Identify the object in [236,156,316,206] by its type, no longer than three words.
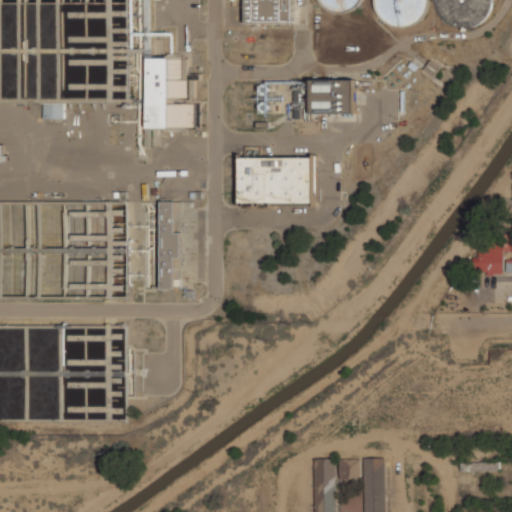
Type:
building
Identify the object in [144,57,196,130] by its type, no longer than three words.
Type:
building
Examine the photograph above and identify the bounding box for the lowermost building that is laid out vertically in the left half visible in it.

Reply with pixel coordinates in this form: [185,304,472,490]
[158,202,178,288]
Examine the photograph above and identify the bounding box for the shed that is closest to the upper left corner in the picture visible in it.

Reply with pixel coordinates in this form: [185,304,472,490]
[42,104,66,119]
